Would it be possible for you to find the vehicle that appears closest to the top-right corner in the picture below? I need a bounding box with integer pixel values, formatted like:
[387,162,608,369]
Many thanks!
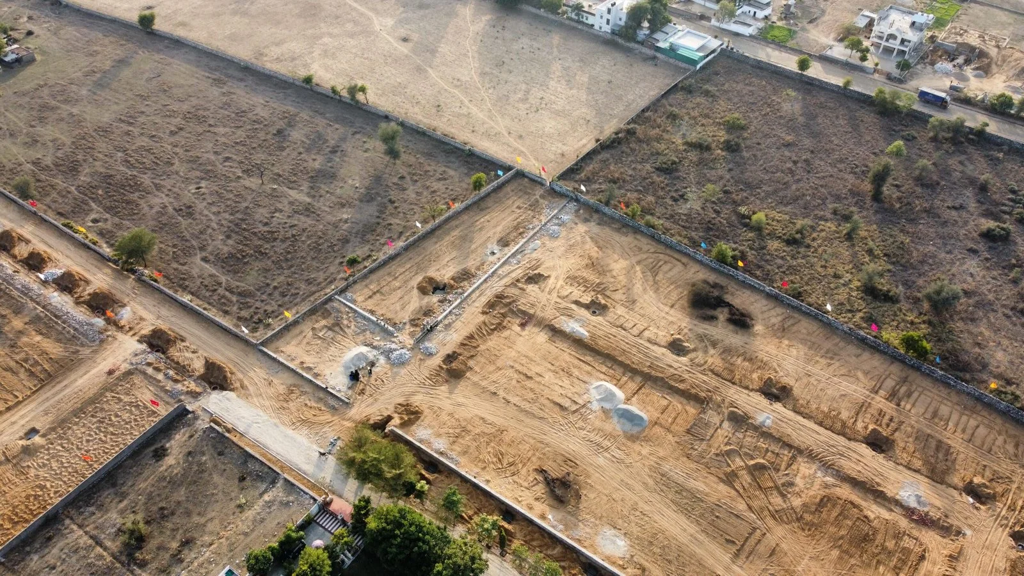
[951,82,970,94]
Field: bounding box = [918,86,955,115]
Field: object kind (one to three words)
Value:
truck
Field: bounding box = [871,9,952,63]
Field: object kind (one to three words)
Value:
house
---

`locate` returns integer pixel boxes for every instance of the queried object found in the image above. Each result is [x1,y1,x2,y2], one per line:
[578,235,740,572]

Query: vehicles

[918,86,955,115]
[951,82,970,94]
[317,447,330,459]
